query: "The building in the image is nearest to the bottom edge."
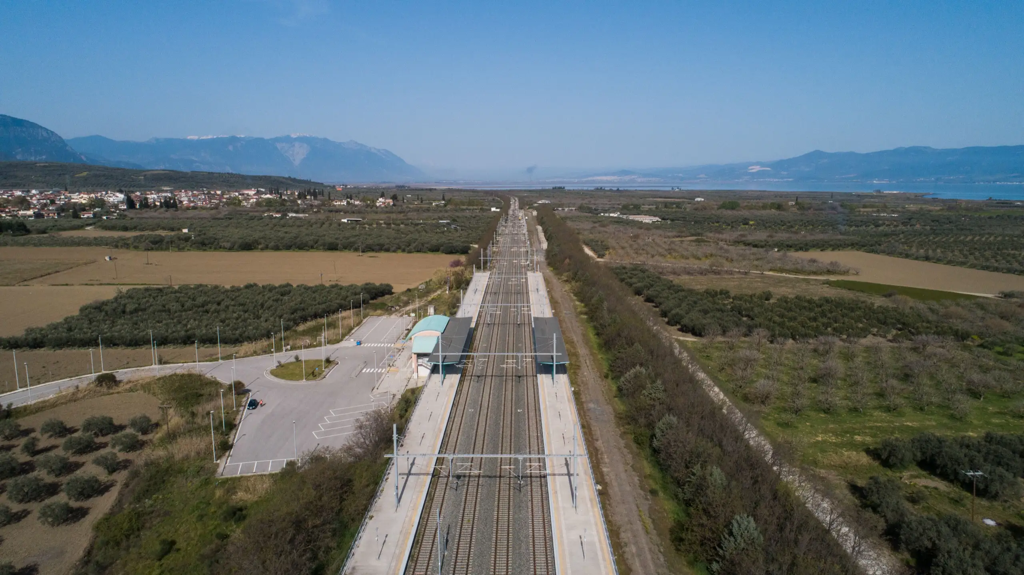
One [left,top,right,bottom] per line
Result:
[405,315,450,379]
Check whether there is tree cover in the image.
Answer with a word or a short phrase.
Yes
